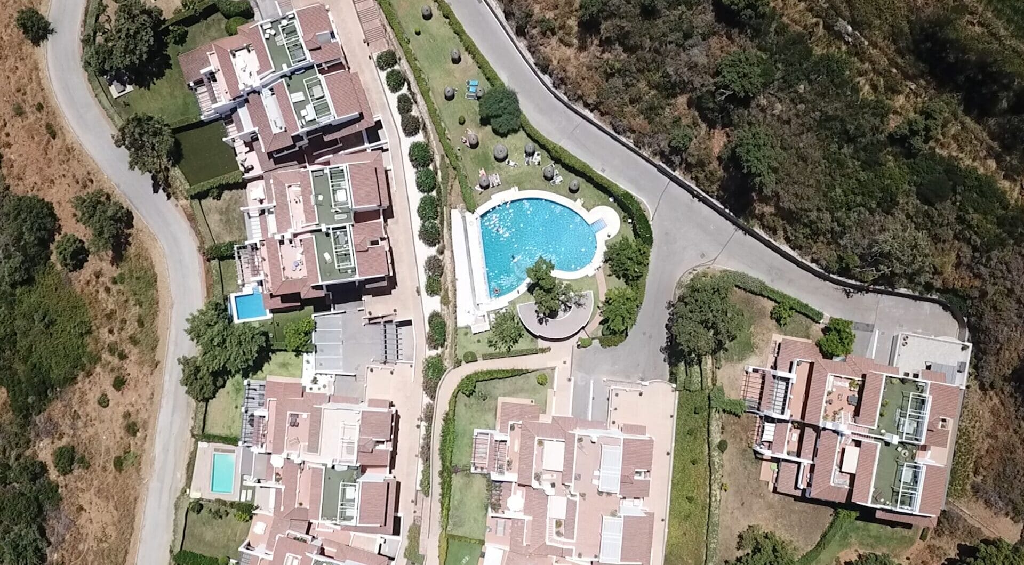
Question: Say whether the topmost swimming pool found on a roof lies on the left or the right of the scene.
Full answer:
The topmost swimming pool found on a roof appears in the left half of the scene.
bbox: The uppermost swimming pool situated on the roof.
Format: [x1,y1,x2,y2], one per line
[235,286,266,319]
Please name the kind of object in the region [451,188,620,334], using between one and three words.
swimming pool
